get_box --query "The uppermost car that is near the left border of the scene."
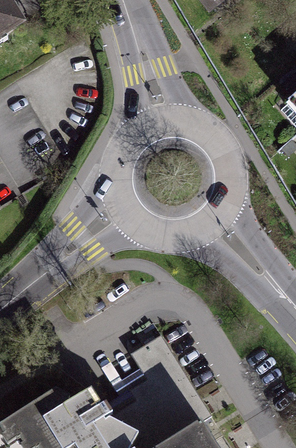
[9,98,30,112]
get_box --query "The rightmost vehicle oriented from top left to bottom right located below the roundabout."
[115,352,132,372]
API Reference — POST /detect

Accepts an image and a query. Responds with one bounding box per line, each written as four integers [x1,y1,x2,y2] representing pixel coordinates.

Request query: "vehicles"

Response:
[68,112,89,128]
[187,360,208,376]
[255,358,277,374]
[96,179,114,200]
[247,350,269,366]
[62,122,82,141]
[93,350,120,385]
[73,100,94,113]
[192,372,214,388]
[275,394,296,410]
[115,352,132,372]
[9,98,30,112]
[174,336,194,353]
[76,88,98,98]
[112,3,124,25]
[72,60,94,71]
[107,283,130,301]
[166,326,189,342]
[179,349,200,366]
[210,186,228,207]
[27,131,48,146]
[53,134,71,156]
[32,141,51,156]
[84,302,106,319]
[262,368,283,384]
